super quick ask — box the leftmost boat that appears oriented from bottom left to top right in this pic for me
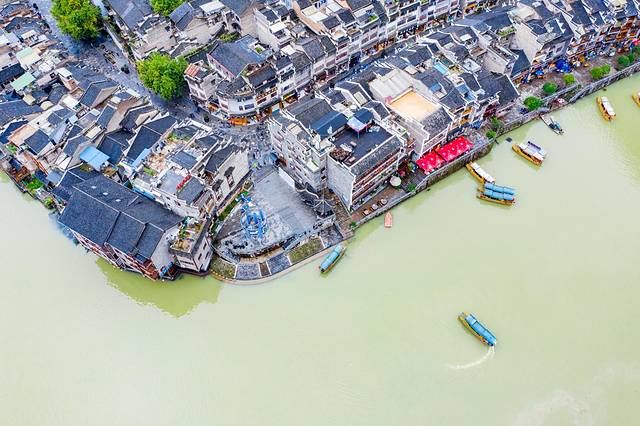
[319,244,347,274]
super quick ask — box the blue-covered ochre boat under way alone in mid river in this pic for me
[459,315,498,349]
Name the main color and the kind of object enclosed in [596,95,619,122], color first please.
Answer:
white boat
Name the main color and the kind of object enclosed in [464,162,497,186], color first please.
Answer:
white boat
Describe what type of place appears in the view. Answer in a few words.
residential area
